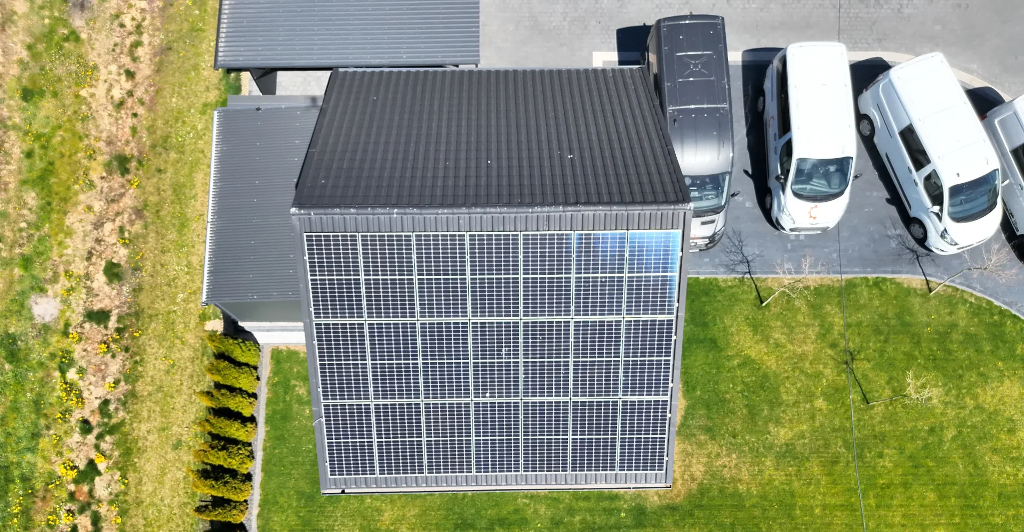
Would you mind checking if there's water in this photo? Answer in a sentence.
No, the picture contains no water.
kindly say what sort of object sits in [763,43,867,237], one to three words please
van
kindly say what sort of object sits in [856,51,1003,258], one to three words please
van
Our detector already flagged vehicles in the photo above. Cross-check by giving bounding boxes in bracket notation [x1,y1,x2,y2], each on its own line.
[639,10,748,256]
[763,43,867,237]
[856,51,1003,258]
[977,92,1024,244]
